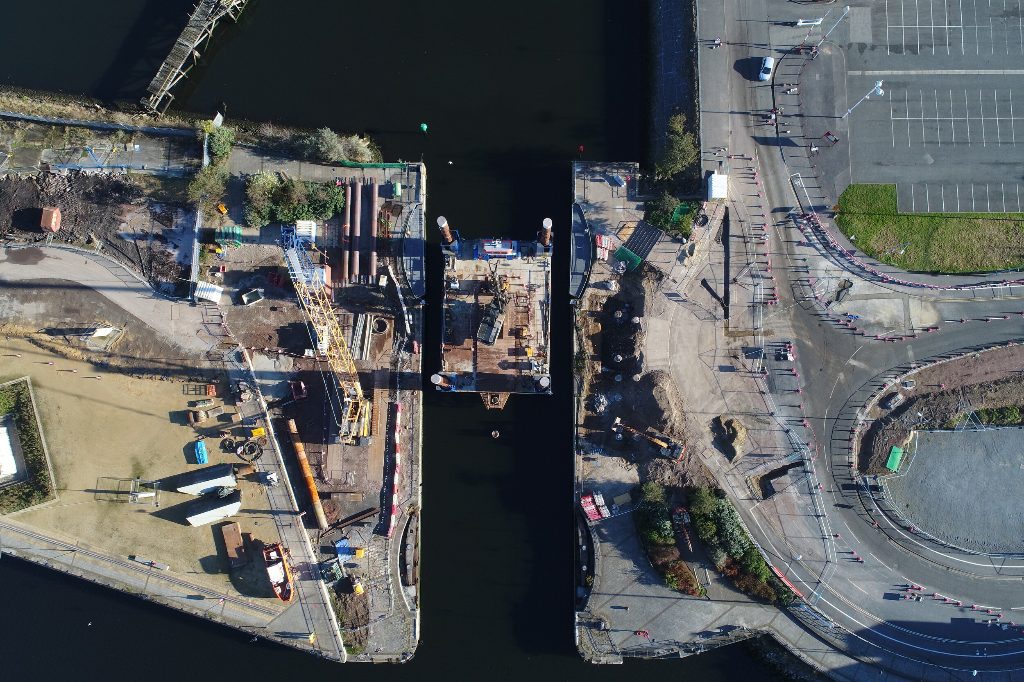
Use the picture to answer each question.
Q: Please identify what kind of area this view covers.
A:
port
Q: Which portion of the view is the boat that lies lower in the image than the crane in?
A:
bottom left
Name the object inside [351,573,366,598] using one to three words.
vehicle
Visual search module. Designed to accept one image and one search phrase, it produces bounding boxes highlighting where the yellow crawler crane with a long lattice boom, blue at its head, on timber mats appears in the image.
[279,223,381,447]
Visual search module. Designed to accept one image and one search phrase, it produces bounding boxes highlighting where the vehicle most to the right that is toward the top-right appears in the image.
[760,53,776,80]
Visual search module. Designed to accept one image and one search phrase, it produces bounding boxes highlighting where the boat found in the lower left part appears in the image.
[263,542,294,603]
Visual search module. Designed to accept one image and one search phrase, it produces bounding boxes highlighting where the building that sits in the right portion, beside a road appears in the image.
[709,174,727,202]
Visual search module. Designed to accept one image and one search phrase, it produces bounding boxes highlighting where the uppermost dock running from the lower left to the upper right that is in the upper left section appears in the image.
[140,0,251,114]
